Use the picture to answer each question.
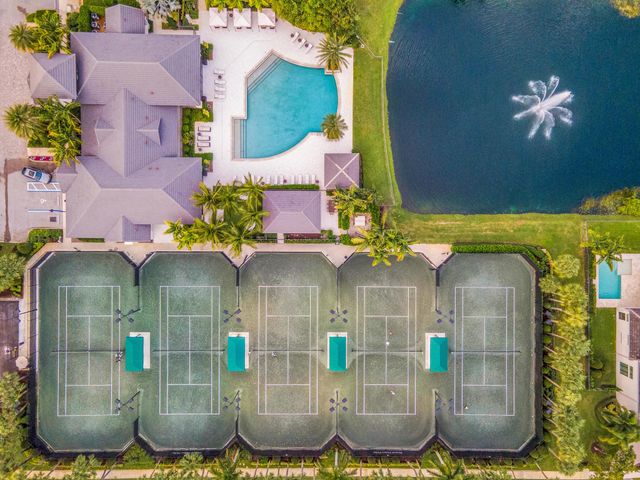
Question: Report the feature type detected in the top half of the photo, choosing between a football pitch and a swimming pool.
swimming pool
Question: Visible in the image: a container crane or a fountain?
fountain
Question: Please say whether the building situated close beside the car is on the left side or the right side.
left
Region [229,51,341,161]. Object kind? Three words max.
swimming pool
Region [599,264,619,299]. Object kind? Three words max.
swimming pool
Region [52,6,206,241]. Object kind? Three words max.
building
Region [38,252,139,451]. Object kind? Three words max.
tennis court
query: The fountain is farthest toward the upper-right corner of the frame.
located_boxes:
[511,72,575,142]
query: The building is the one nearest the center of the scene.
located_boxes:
[263,191,321,234]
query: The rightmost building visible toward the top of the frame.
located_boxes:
[324,152,360,189]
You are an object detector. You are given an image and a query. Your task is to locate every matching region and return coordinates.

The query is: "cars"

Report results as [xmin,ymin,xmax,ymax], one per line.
[20,166,51,183]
